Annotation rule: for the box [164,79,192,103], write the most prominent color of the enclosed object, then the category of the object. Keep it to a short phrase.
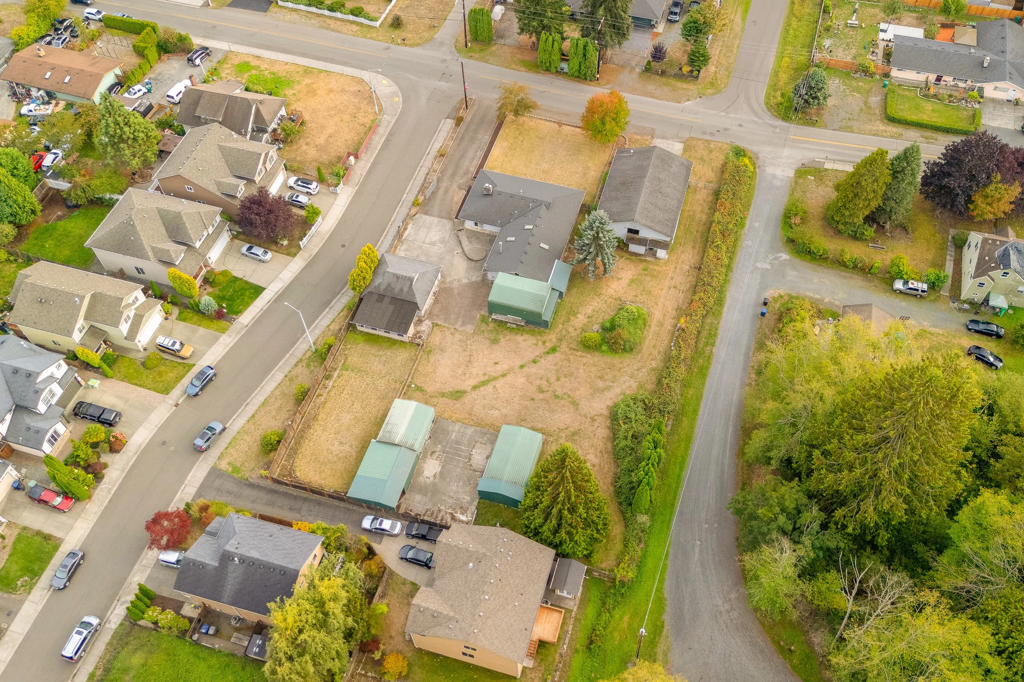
white vehicle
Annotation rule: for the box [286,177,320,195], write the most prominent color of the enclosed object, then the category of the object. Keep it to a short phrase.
white car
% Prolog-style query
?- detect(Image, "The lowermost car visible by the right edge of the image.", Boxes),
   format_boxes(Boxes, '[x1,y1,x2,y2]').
[966,345,1003,370]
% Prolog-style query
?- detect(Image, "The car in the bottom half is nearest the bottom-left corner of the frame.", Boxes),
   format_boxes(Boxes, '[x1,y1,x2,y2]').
[60,616,103,664]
